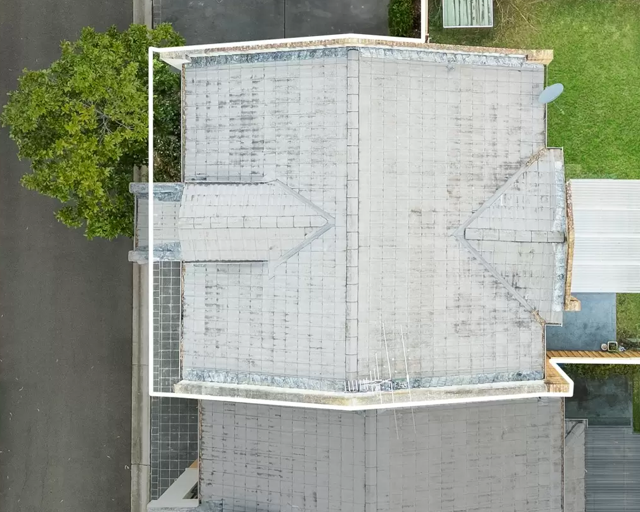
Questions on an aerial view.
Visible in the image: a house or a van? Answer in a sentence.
Looking from above, you can make out a house.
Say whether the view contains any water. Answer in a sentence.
No, there is no water in the image.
